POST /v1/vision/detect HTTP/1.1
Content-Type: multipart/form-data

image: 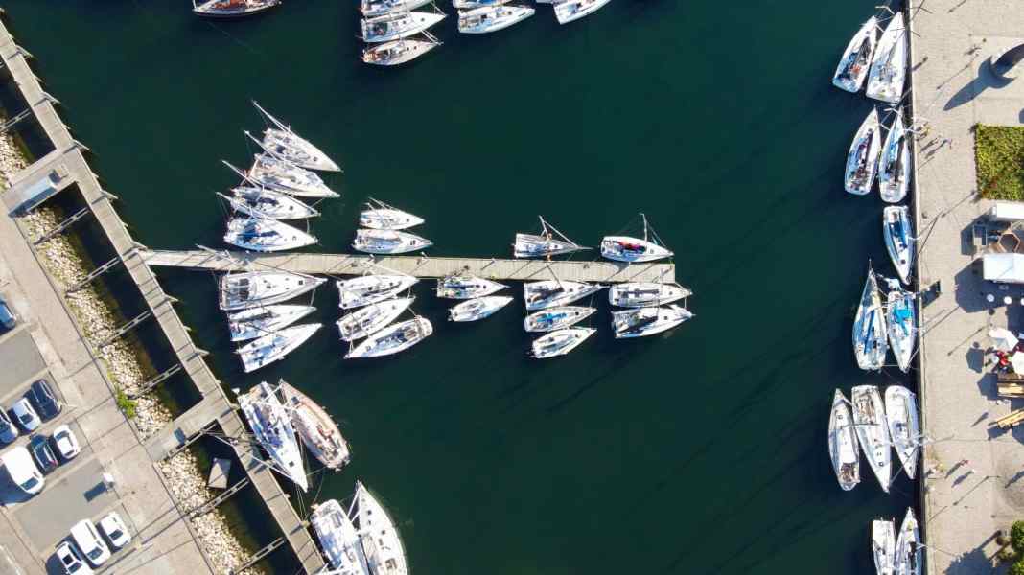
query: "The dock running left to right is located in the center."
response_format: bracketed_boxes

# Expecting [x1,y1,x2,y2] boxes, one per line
[142,251,675,283]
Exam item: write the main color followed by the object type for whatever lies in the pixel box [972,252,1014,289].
white gazebo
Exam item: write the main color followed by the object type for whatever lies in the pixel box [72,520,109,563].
white van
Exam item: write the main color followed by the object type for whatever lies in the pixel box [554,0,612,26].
white boat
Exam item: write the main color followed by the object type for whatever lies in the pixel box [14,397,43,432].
white car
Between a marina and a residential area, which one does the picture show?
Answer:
marina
